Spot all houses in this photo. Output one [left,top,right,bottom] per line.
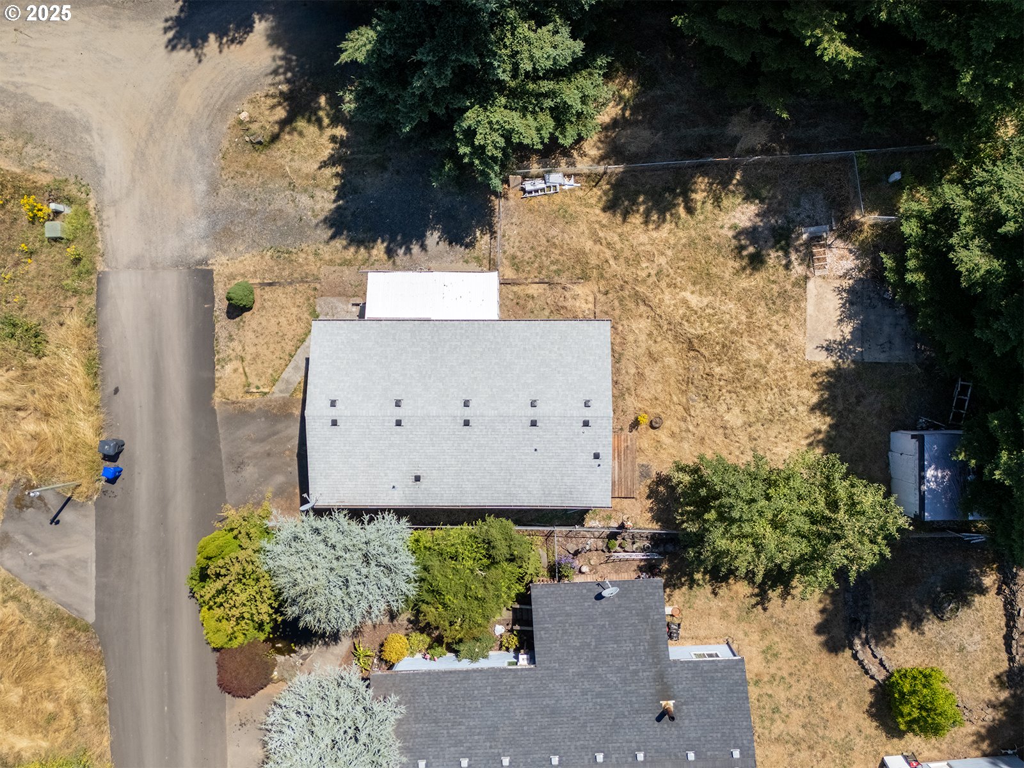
[367,573,761,768]
[302,317,615,512]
